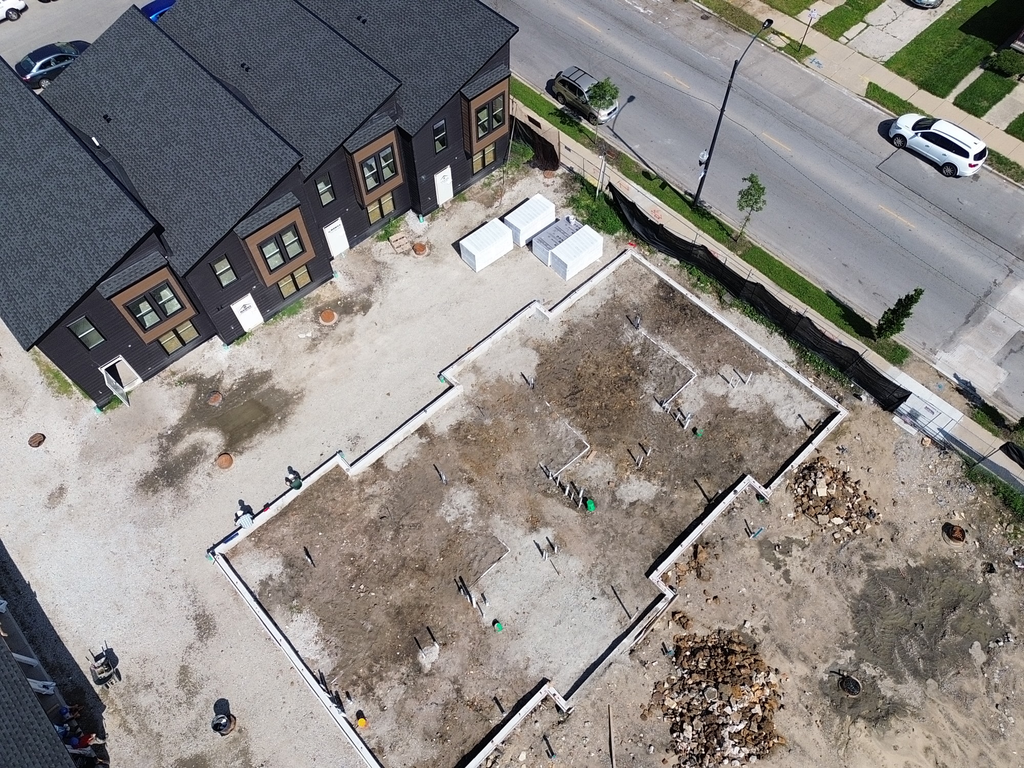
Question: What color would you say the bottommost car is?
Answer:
white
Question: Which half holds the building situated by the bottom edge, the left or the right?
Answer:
left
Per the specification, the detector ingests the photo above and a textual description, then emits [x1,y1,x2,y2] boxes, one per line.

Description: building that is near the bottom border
[0,581,107,768]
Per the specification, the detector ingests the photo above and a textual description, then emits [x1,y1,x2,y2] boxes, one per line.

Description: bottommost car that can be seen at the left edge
[10,39,93,86]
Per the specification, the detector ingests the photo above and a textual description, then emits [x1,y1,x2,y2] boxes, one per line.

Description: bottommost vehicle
[887,116,992,184]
